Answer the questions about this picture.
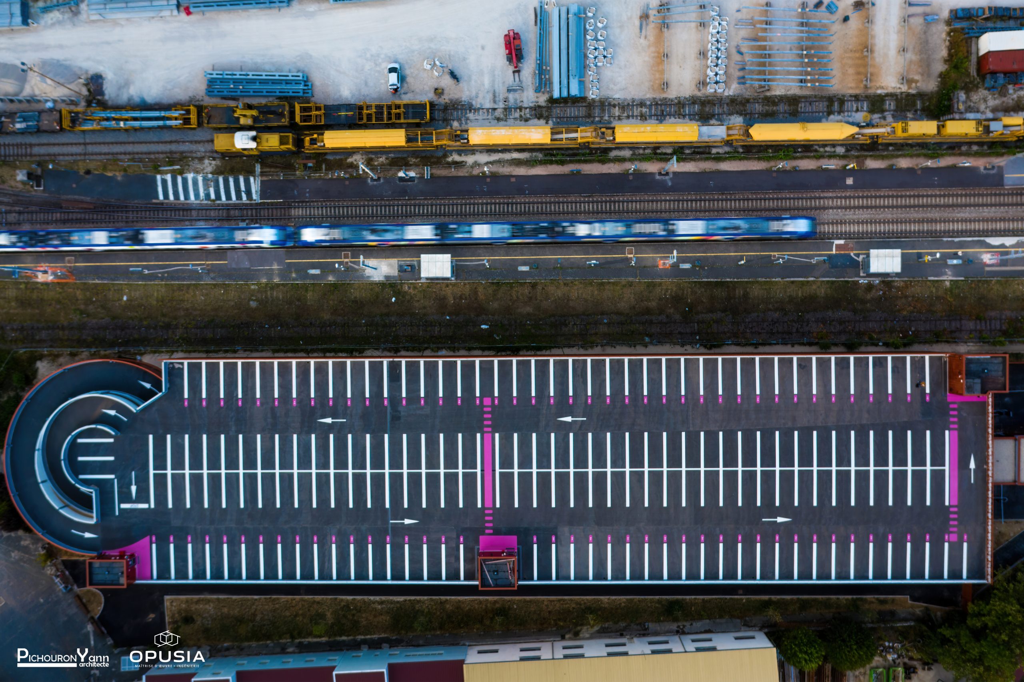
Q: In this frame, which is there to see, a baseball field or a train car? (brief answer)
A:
train car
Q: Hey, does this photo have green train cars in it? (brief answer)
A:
No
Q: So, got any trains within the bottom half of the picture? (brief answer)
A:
No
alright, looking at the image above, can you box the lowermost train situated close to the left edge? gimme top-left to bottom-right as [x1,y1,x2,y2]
[0,223,298,251]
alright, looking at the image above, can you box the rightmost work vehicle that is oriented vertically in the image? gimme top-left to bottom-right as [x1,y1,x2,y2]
[503,26,524,83]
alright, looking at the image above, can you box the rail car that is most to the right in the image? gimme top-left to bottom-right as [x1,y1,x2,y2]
[999,119,1024,144]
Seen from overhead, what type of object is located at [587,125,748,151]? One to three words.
rail car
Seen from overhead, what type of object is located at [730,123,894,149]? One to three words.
rail car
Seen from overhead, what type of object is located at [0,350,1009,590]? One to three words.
building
